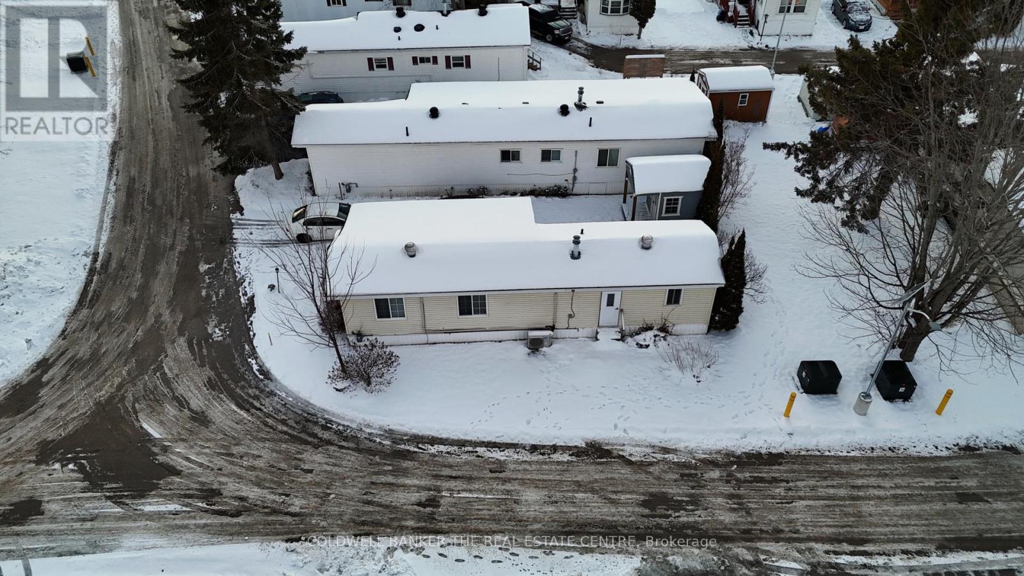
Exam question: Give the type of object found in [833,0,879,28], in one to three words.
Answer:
car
